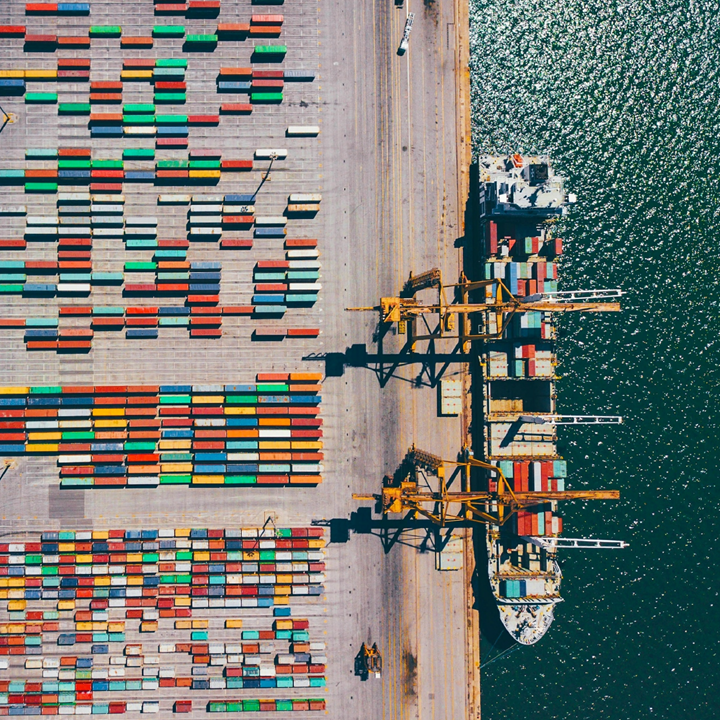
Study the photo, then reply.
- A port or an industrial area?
port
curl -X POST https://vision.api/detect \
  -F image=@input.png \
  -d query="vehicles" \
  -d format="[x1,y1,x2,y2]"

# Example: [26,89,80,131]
[397,13,415,57]
[360,641,381,679]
